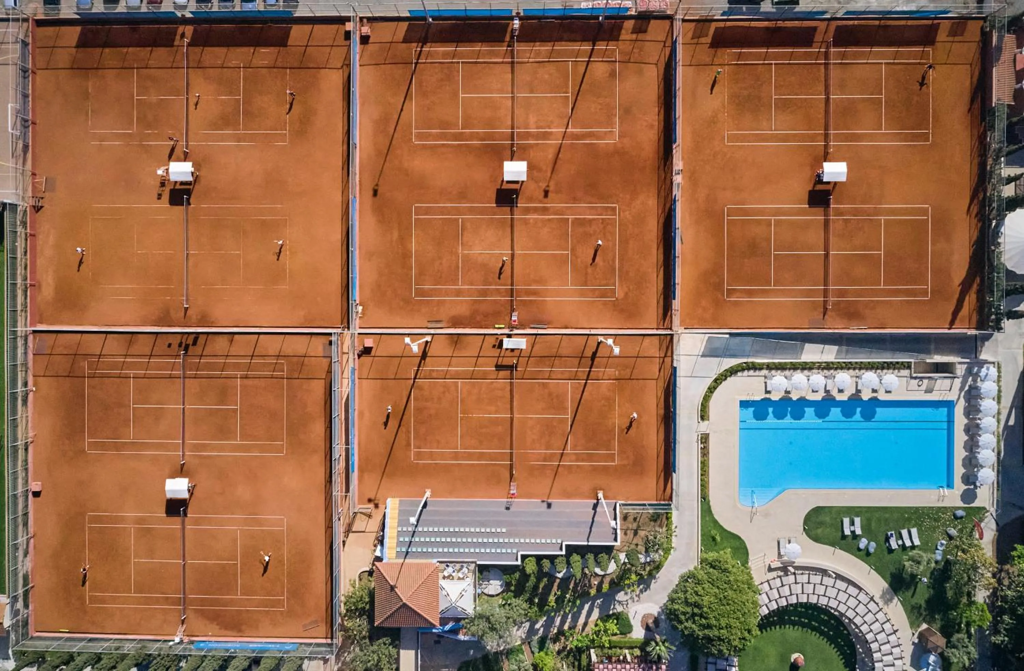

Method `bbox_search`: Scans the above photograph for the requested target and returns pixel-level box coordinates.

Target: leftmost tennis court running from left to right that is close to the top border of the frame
[37,20,354,175]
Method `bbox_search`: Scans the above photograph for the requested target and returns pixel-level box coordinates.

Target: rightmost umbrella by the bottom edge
[916,651,939,671]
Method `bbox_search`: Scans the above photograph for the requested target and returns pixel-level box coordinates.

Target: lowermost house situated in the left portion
[374,558,440,627]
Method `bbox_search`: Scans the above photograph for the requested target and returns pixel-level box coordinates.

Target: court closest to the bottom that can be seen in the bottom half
[34,486,336,639]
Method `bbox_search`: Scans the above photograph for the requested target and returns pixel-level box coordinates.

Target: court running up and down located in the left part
[0,20,28,199]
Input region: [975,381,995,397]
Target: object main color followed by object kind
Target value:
white umbrella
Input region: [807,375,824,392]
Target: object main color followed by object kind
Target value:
white umbrella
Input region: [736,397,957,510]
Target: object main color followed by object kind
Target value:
blue swimming pool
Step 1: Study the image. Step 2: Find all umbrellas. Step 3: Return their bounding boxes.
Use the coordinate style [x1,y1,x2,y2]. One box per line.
[770,375,788,392]
[832,373,850,389]
[807,375,824,392]
[860,373,877,390]
[972,449,992,466]
[974,417,996,435]
[916,651,939,671]
[974,399,997,417]
[971,469,993,486]
[790,372,808,390]
[975,365,996,382]
[974,434,994,450]
[784,541,801,558]
[878,373,897,389]
[975,381,995,397]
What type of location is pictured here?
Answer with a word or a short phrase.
sports ground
